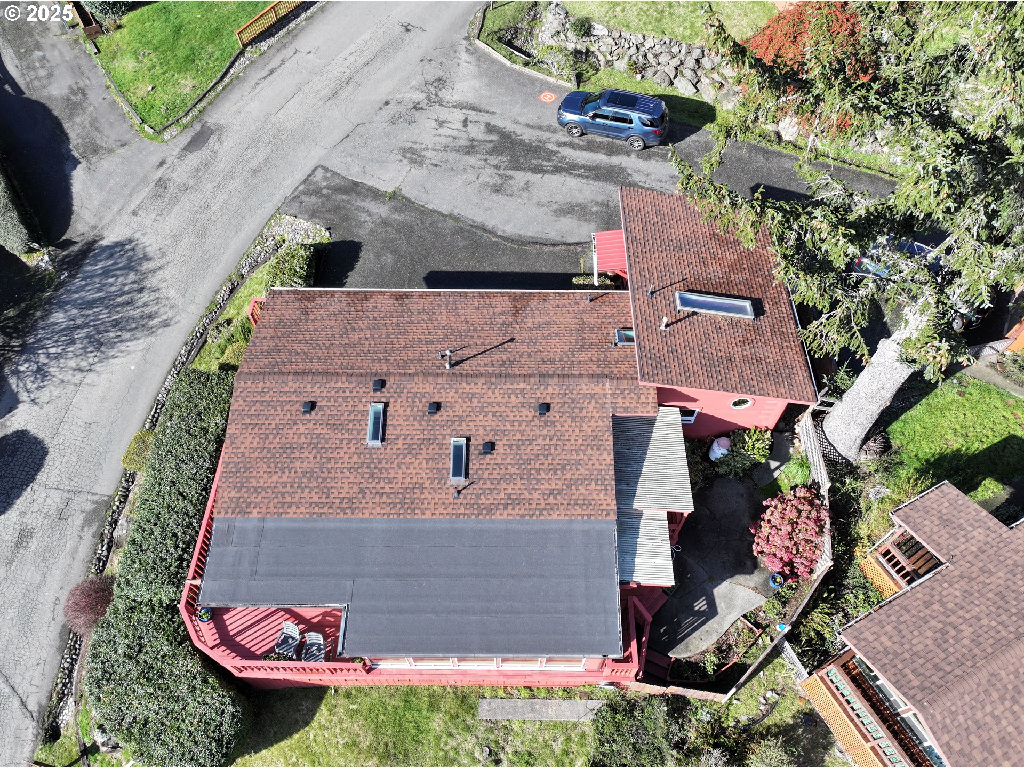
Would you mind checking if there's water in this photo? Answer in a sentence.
No, there is no water in the image.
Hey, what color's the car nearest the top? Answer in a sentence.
The car nearest the top is blue.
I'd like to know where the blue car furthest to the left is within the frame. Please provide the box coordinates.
[554,83,671,149]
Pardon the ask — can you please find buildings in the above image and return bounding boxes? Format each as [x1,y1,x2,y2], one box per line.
[197,186,821,675]
[819,481,1024,768]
